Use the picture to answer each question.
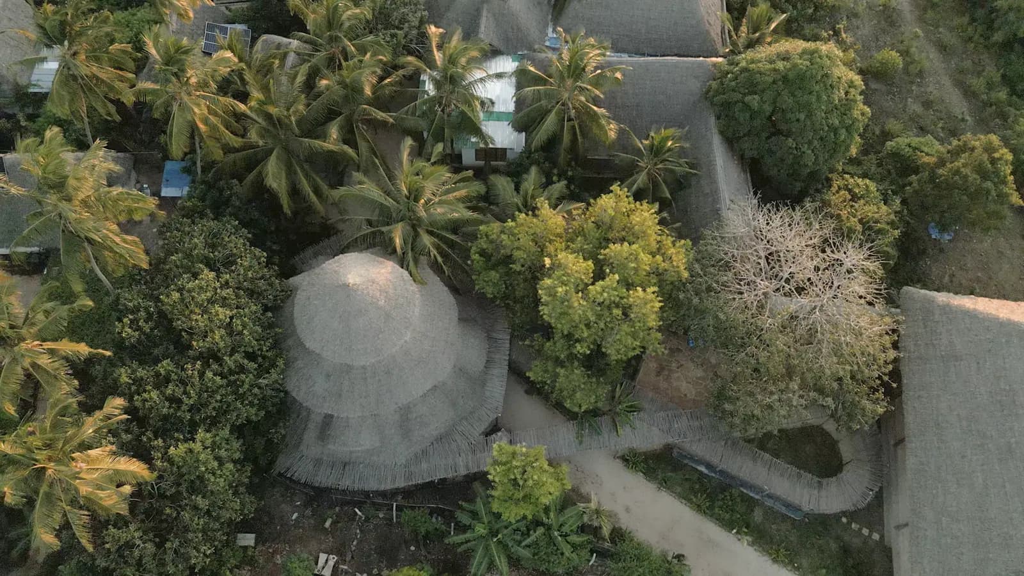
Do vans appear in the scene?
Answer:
No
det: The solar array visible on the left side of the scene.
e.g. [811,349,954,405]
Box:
[202,22,255,69]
